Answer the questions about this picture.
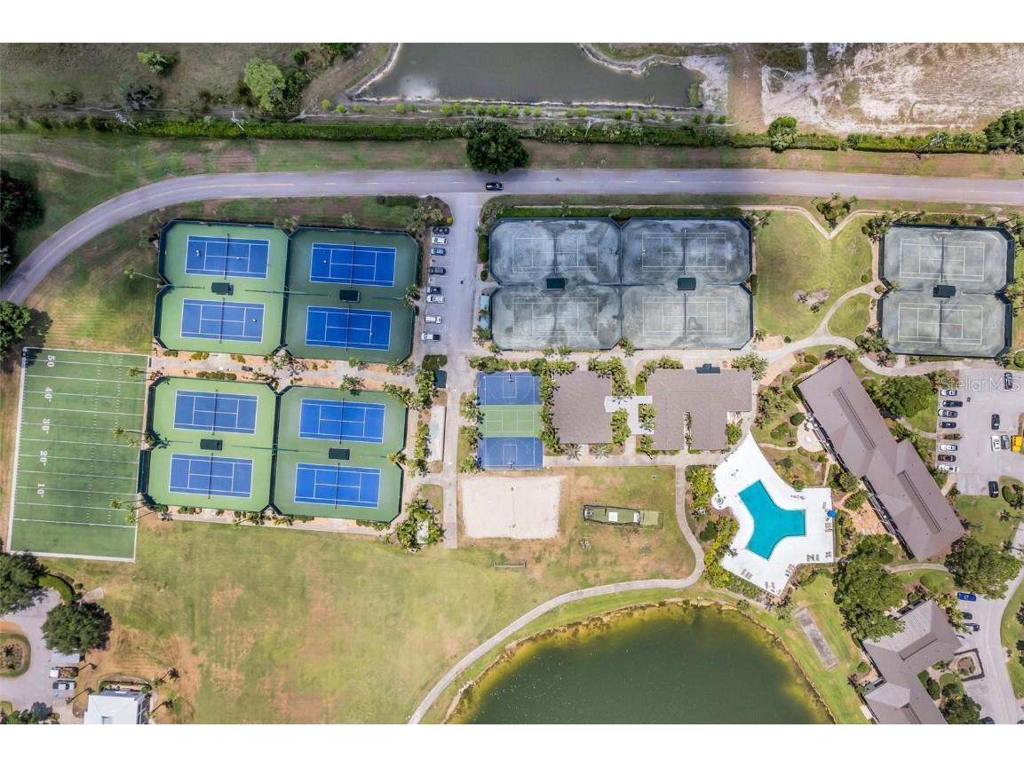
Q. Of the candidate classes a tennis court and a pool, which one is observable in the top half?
tennis court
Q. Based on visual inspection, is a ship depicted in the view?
No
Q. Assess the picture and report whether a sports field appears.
Yes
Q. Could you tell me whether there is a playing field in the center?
No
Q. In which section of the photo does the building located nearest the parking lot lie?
right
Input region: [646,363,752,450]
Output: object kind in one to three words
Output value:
building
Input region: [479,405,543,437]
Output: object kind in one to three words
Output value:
sports court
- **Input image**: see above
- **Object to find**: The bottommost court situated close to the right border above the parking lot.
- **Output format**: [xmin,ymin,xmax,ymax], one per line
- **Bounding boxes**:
[884,289,1003,357]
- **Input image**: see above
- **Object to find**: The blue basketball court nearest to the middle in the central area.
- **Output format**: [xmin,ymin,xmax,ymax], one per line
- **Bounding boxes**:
[477,372,543,405]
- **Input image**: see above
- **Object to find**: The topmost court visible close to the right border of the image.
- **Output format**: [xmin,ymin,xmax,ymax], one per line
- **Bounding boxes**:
[886,225,1005,295]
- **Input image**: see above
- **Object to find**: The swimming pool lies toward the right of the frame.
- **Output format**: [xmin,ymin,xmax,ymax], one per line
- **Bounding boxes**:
[712,432,832,596]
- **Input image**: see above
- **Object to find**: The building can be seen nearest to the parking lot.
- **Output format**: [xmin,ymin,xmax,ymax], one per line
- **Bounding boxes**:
[797,357,966,563]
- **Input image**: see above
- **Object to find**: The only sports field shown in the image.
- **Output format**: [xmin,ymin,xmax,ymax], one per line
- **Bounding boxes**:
[5,347,150,566]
